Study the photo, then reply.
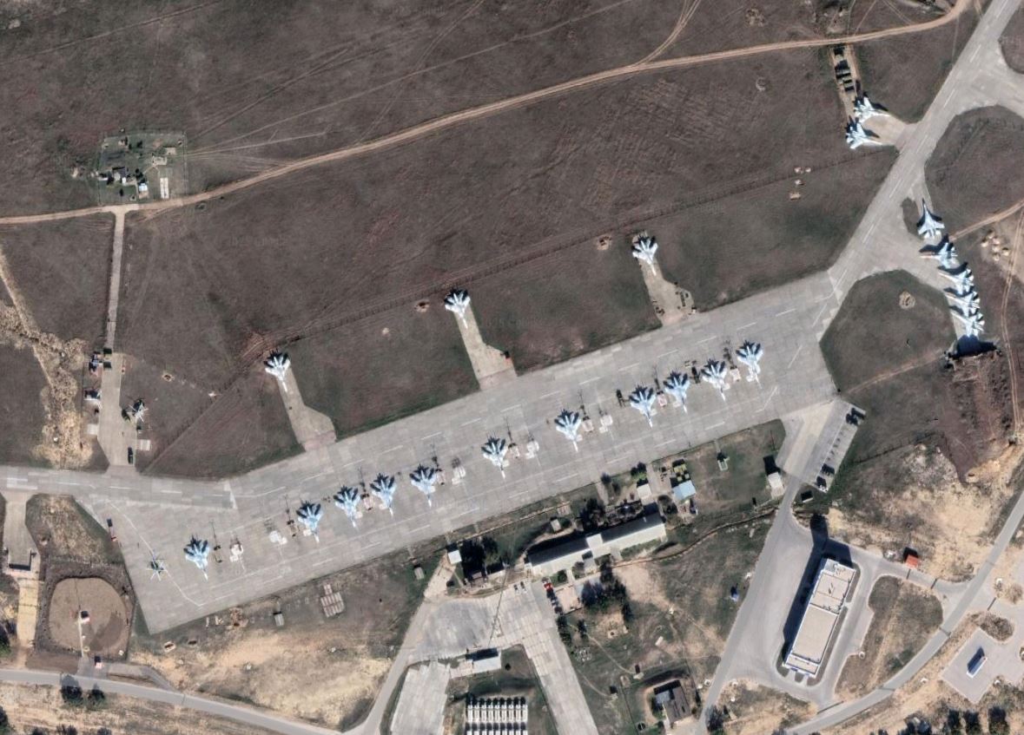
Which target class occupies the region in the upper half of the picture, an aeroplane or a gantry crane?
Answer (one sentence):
It is an aeroplane that can be seen in the upper half of the picture.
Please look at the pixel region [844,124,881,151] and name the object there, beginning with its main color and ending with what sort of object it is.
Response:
white airplane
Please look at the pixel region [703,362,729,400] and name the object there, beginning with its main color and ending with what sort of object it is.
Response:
white airplane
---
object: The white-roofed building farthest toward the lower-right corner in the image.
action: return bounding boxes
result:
[781,556,856,681]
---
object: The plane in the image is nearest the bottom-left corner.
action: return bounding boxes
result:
[185,542,210,579]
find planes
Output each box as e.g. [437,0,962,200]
[952,313,988,338]
[630,389,656,427]
[919,204,945,241]
[703,362,729,400]
[371,477,397,514]
[483,440,510,479]
[266,354,292,391]
[940,268,977,294]
[556,413,582,451]
[335,489,361,526]
[945,291,983,317]
[665,374,691,411]
[185,542,210,579]
[920,242,958,269]
[410,468,437,505]
[445,290,471,328]
[844,124,881,151]
[298,505,324,542]
[852,98,891,125]
[739,347,765,384]
[633,237,658,276]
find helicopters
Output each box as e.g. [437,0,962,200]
[129,402,147,421]
[145,561,162,579]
